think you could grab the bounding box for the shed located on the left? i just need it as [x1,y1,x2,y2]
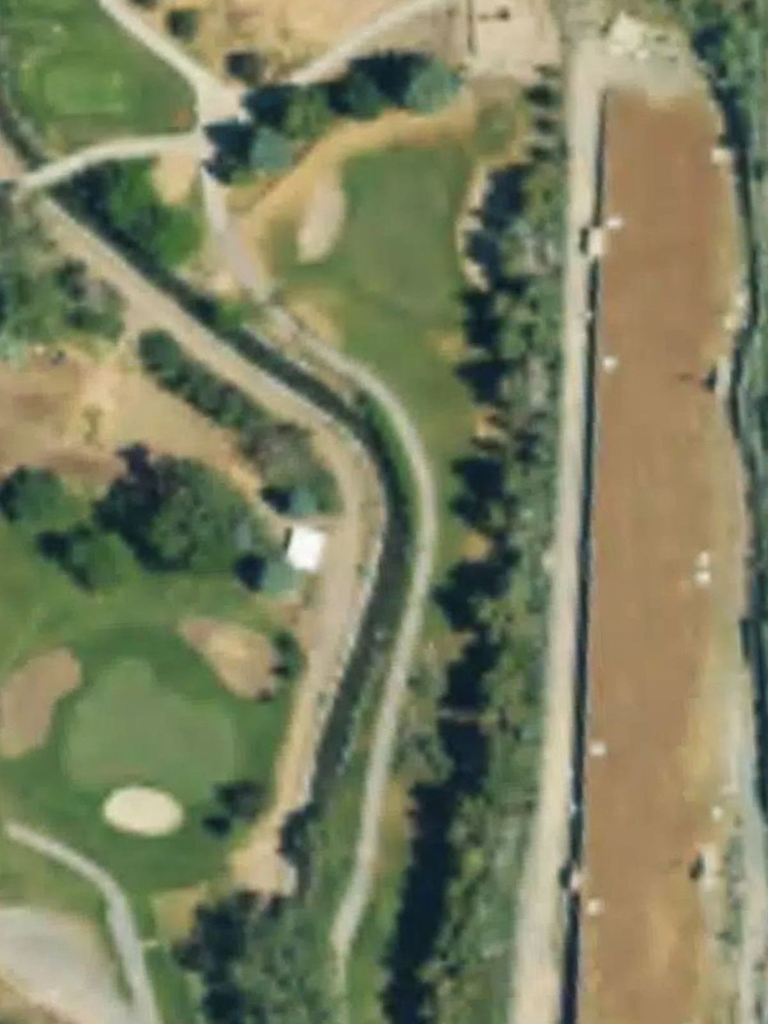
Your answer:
[287,526,326,569]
